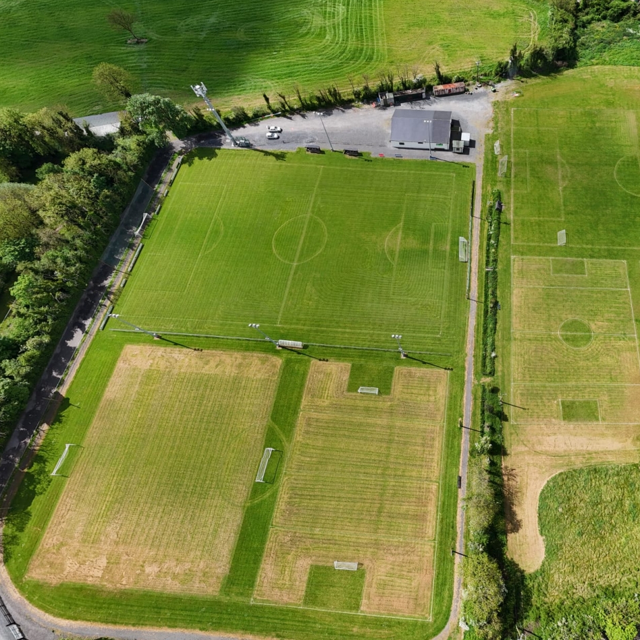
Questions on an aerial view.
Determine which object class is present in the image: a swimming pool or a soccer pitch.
soccer pitch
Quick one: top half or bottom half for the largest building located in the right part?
top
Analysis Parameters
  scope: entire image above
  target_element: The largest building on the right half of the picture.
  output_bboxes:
[390,104,452,149]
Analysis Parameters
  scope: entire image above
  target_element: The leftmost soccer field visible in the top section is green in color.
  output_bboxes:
[114,156,458,339]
